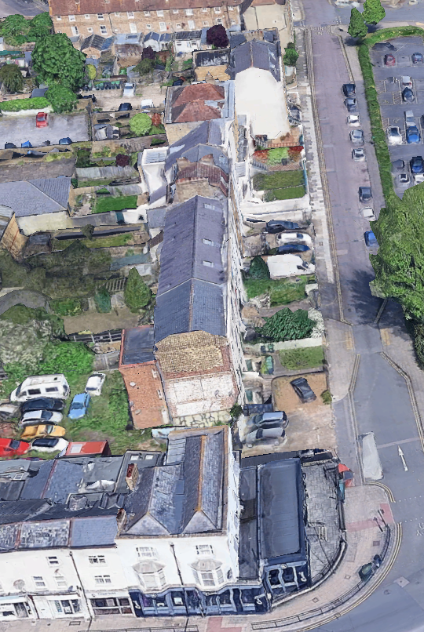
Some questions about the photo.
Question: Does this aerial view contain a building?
Yes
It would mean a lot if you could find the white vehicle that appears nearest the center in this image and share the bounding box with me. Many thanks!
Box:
[265,255,307,275]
